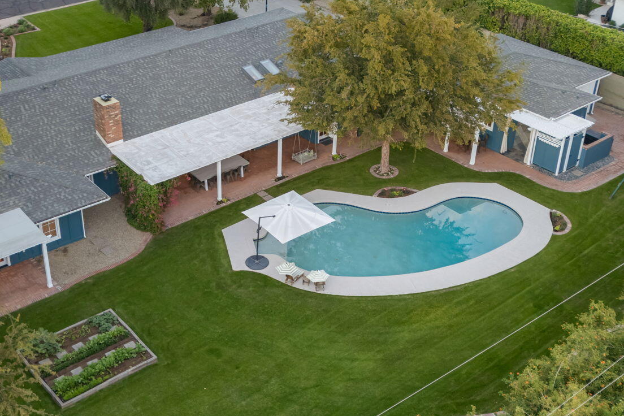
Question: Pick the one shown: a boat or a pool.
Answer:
pool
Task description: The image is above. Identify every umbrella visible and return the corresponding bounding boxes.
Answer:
[304,266,332,280]
[272,254,302,278]
[240,185,339,267]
